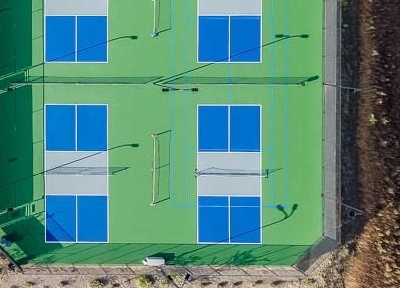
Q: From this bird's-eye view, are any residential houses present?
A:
No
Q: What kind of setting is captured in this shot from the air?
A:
sports ground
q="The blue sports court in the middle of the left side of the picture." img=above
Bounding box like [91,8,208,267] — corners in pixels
[46,105,108,243]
